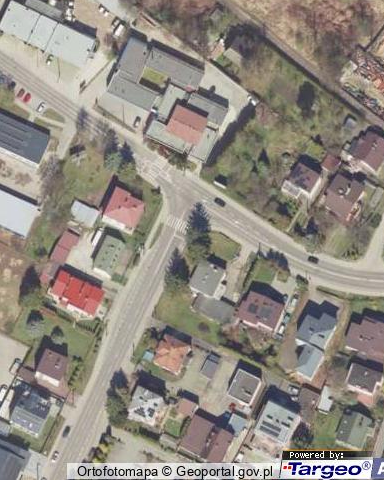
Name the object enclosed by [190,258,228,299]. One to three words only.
house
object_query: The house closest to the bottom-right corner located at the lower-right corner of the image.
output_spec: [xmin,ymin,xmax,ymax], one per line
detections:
[332,409,374,451]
